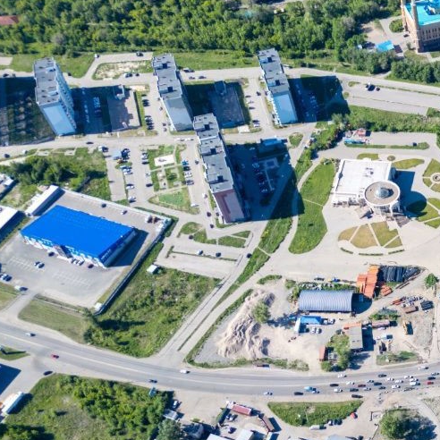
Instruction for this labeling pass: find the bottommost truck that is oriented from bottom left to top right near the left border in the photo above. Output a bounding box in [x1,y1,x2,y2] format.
[0,393,28,414]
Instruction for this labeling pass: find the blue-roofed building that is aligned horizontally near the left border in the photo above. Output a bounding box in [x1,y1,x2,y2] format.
[20,205,137,268]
